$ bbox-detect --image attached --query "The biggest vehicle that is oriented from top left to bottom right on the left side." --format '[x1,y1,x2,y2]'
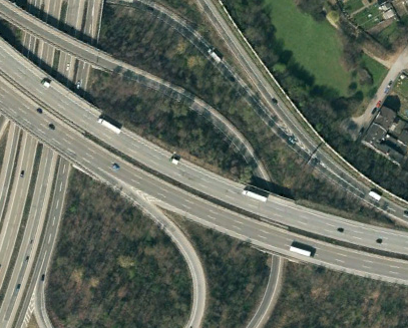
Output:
[98,118,122,134]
